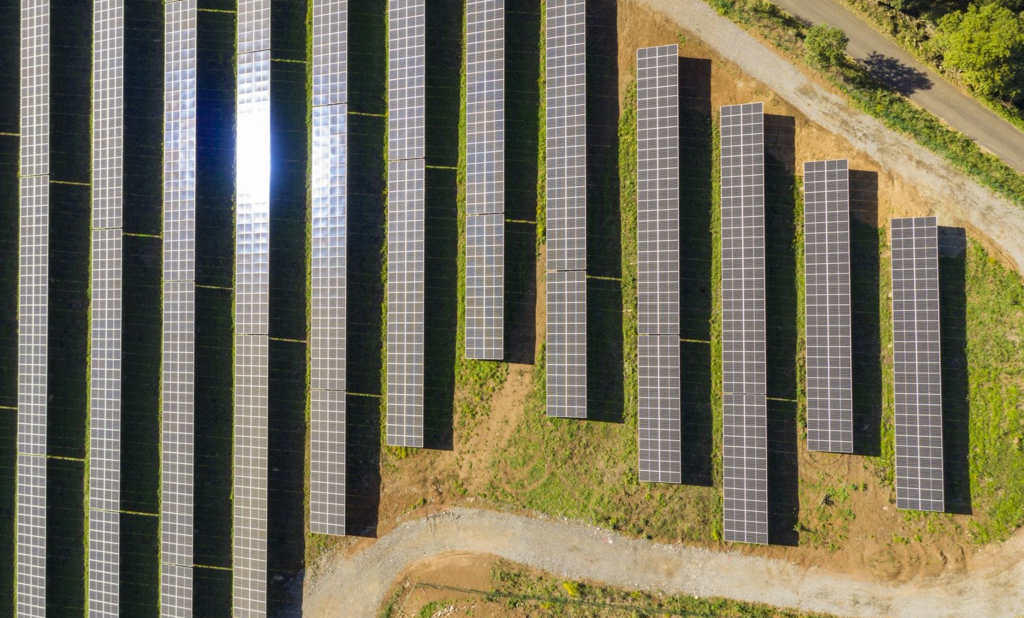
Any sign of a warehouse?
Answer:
No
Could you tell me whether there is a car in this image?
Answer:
No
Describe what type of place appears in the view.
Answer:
solar farm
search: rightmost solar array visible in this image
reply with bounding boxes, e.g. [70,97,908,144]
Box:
[888,216,944,512]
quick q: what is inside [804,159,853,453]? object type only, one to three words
solar array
